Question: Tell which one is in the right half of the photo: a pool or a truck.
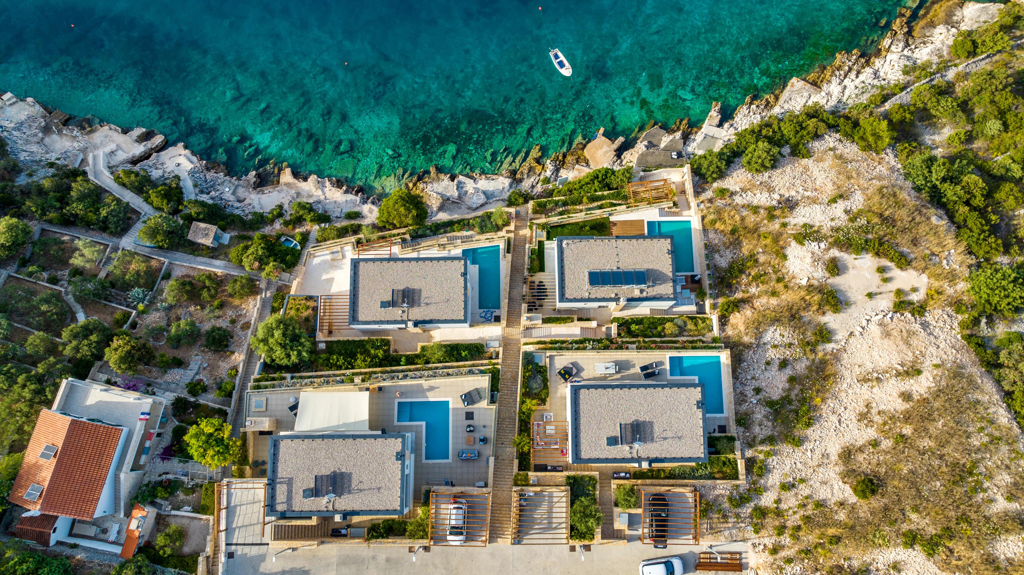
pool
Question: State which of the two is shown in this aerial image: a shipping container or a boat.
boat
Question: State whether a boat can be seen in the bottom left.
No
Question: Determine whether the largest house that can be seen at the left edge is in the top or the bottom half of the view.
bottom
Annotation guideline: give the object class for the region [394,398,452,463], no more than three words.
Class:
swimming pool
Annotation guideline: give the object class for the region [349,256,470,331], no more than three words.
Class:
house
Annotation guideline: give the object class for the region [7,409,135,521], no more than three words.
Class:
house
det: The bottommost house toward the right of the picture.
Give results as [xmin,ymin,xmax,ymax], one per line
[563,380,708,468]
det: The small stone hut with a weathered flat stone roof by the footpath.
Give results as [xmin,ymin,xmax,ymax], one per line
[187,222,225,249]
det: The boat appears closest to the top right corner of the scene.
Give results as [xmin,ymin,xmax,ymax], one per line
[550,41,574,76]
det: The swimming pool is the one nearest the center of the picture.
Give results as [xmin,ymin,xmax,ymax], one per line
[459,242,503,312]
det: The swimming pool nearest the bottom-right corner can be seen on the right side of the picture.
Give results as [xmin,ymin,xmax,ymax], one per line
[667,353,726,417]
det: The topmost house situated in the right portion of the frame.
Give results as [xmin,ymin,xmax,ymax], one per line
[553,235,677,313]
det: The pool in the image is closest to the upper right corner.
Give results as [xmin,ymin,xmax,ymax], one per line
[645,218,697,275]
